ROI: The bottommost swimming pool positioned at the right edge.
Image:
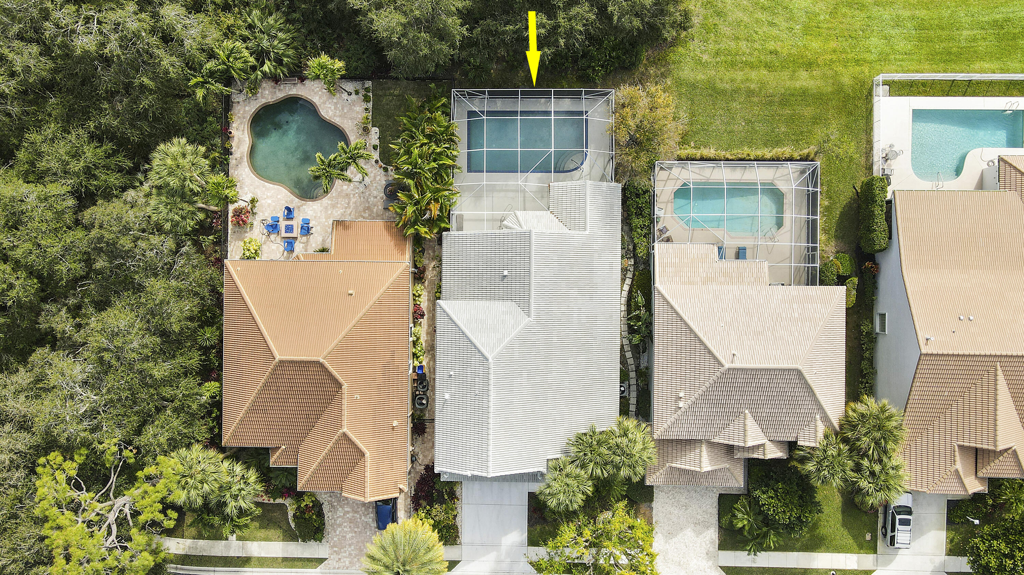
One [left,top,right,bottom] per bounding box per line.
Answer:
[909,103,1024,188]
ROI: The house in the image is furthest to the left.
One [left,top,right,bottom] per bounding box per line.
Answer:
[221,219,414,503]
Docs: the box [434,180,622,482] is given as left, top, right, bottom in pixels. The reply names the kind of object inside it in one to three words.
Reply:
house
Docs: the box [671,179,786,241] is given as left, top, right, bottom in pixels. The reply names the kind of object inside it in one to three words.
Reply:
swimming pool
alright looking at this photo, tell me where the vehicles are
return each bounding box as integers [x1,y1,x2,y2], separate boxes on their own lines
[371,497,398,531]
[881,488,915,551]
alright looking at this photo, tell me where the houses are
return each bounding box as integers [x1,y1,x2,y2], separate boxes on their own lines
[644,243,847,489]
[874,155,1024,496]
[221,219,414,503]
[434,180,622,482]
